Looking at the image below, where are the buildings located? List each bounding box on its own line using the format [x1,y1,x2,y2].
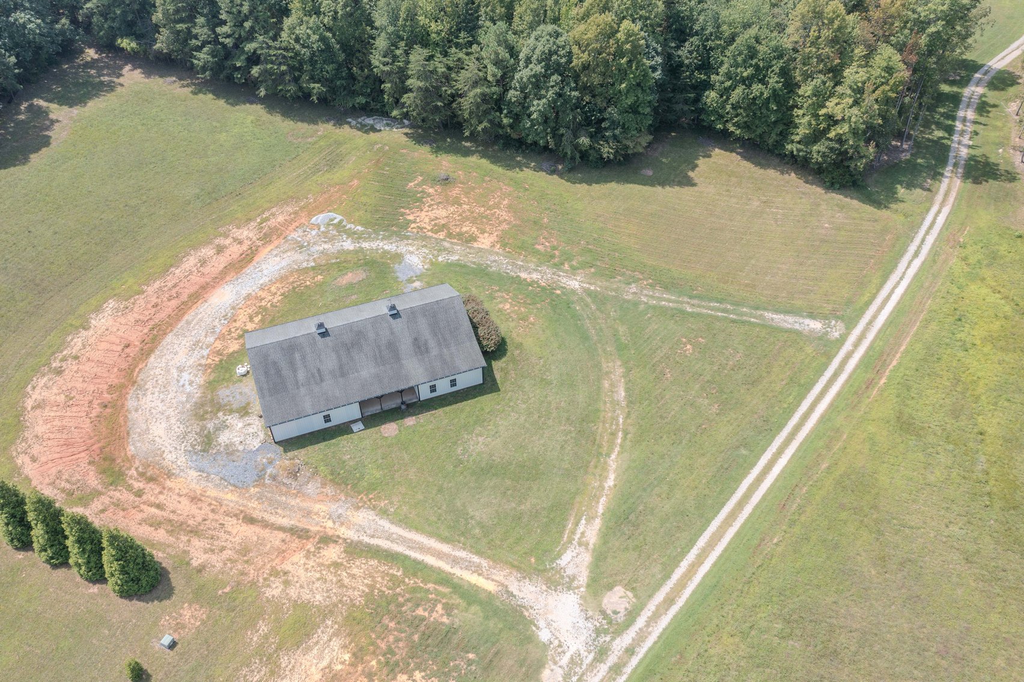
[246,284,487,443]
